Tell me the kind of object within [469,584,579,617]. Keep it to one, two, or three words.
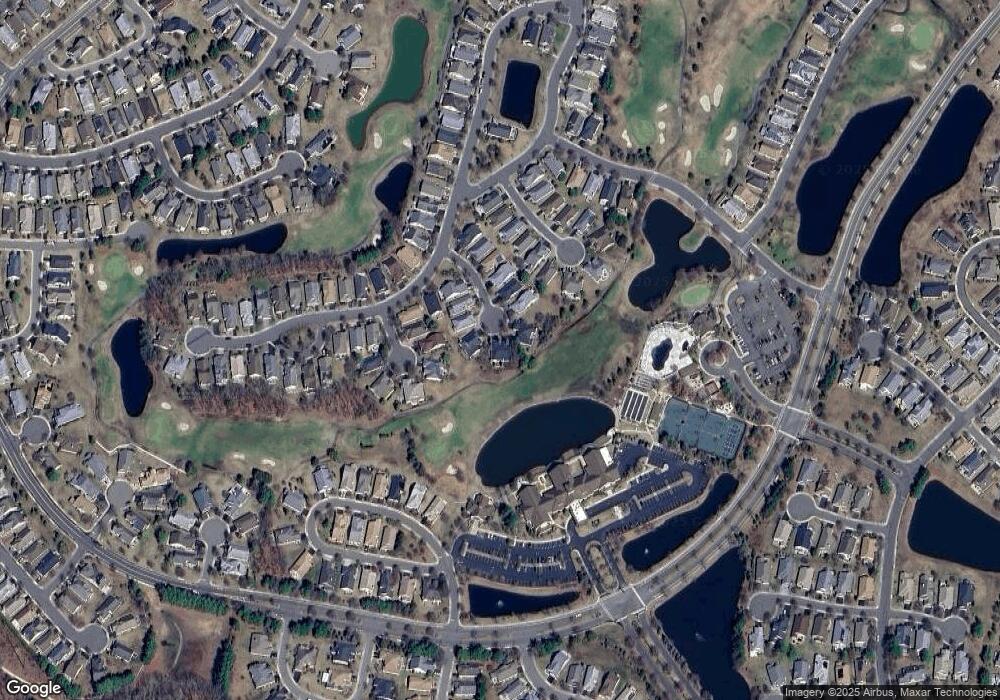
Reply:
pond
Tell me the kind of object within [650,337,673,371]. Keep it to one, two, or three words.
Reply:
swimming pool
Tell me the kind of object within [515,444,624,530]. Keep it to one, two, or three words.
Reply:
building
